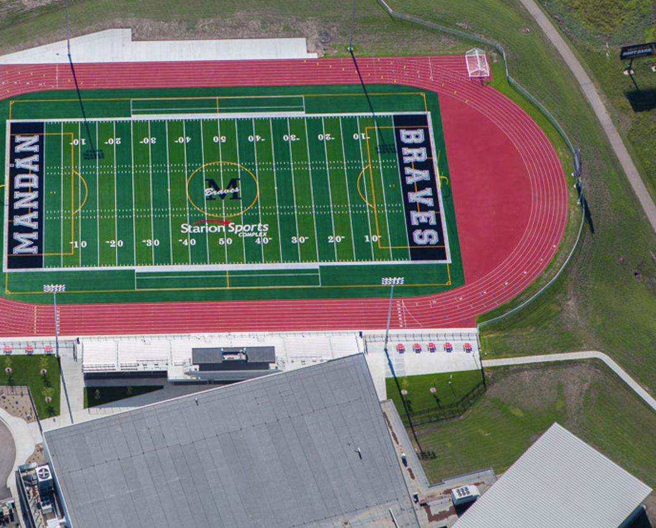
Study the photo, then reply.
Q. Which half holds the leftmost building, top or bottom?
bottom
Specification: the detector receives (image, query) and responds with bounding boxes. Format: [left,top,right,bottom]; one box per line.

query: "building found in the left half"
[42,352,418,528]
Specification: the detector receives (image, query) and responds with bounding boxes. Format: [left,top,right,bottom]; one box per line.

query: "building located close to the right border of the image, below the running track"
[449,424,653,528]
